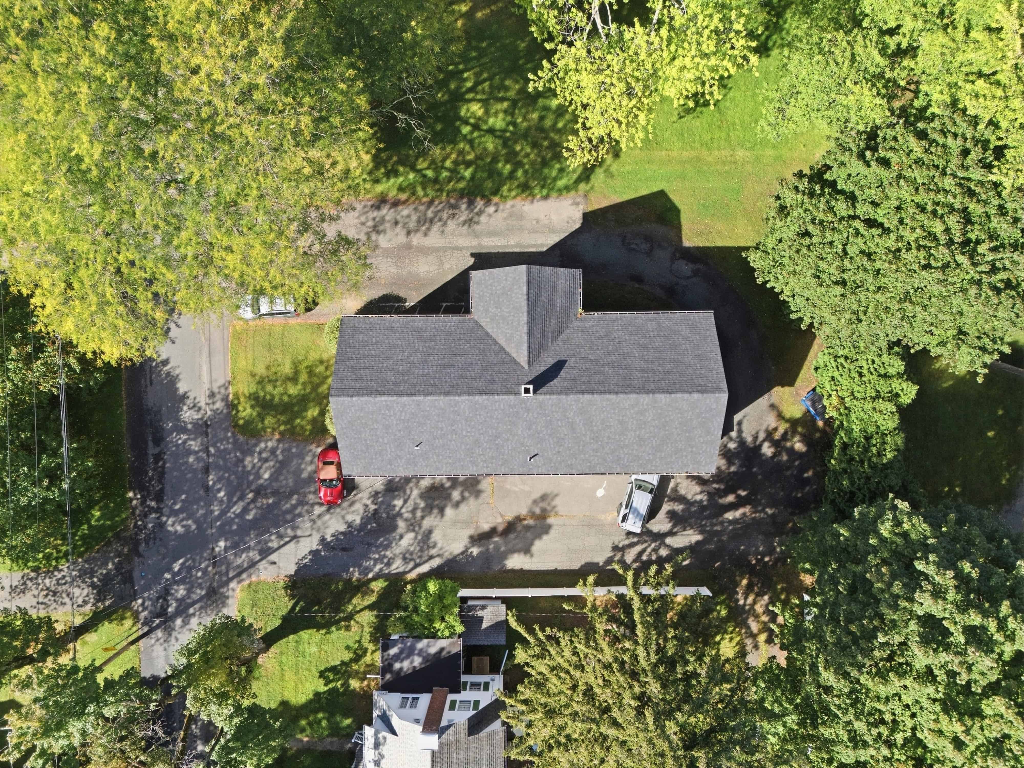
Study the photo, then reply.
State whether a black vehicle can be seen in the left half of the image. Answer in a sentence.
No, looking in the left half of the image, there is no black vehicle.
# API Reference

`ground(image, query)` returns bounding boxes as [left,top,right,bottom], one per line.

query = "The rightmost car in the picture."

[617,476,657,532]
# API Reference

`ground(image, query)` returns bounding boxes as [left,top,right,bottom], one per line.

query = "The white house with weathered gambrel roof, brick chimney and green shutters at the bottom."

[357,625,511,768]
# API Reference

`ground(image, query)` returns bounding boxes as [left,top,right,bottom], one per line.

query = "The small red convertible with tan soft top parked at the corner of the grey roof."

[316,448,346,503]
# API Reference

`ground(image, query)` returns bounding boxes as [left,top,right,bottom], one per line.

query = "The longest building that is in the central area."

[330,265,730,480]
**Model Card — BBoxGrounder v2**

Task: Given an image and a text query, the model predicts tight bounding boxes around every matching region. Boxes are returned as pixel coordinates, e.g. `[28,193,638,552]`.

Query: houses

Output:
[357,625,511,768]
[330,265,730,480]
